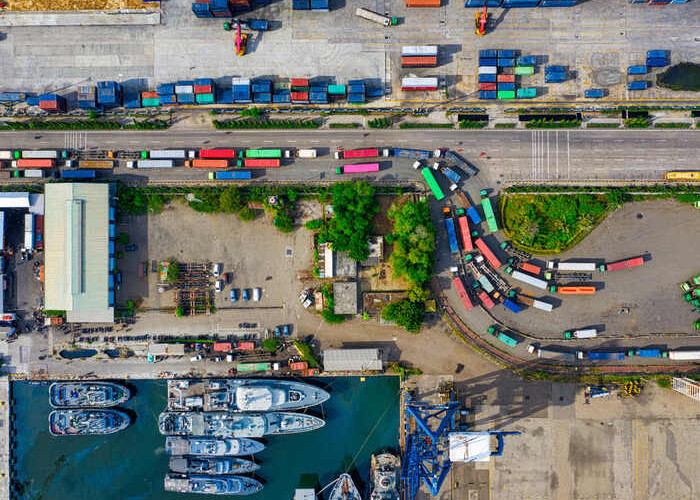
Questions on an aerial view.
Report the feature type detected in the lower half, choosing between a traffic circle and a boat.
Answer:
boat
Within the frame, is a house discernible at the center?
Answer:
Yes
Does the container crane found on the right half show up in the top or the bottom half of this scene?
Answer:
bottom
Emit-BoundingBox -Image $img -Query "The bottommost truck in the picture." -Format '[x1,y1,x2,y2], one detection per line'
[582,386,613,407]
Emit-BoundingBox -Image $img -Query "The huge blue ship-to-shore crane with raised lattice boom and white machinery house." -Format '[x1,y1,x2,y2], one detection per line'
[396,383,524,500]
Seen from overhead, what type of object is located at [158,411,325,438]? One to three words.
ship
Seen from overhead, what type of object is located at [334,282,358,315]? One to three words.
house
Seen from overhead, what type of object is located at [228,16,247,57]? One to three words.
work vehicle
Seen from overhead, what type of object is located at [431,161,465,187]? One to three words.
truck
